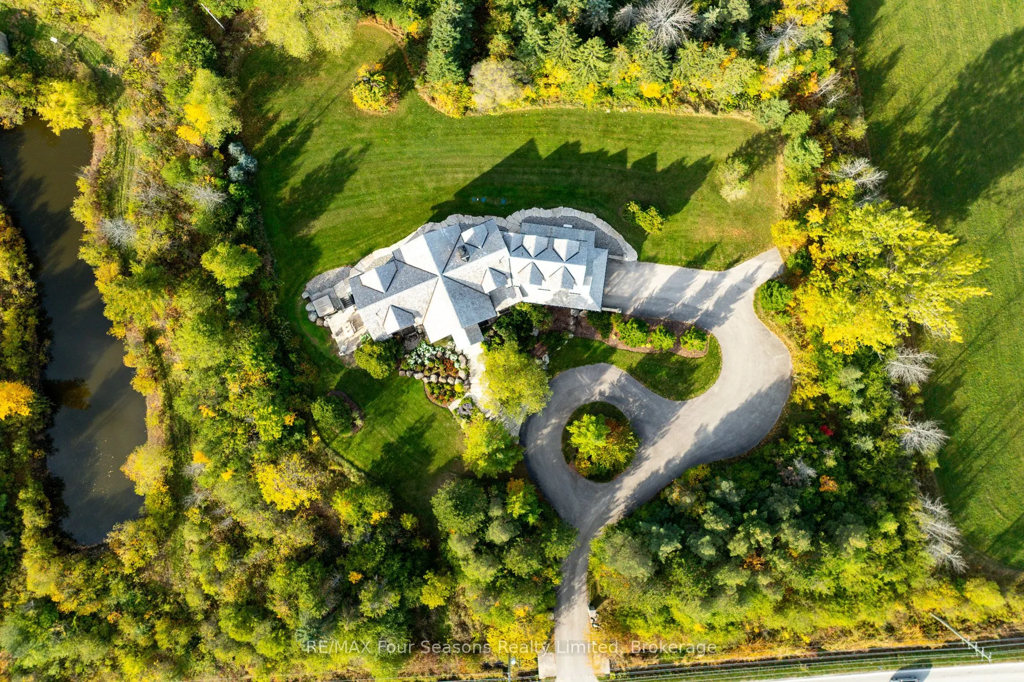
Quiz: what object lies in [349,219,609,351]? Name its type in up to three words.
house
